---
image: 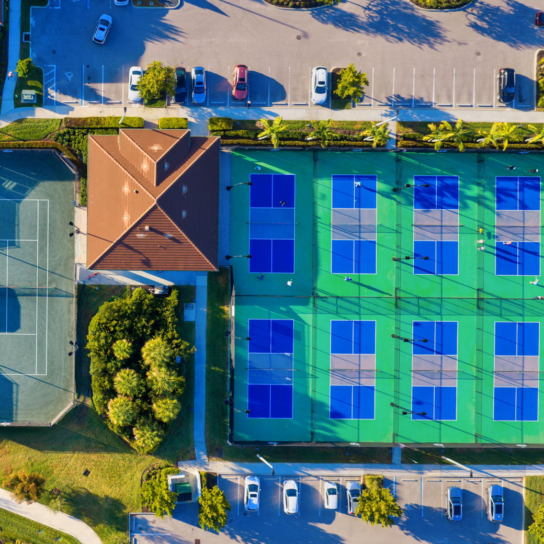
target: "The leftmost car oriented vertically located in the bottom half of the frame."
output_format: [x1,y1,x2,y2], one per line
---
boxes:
[244,475,262,512]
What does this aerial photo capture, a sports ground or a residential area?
sports ground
